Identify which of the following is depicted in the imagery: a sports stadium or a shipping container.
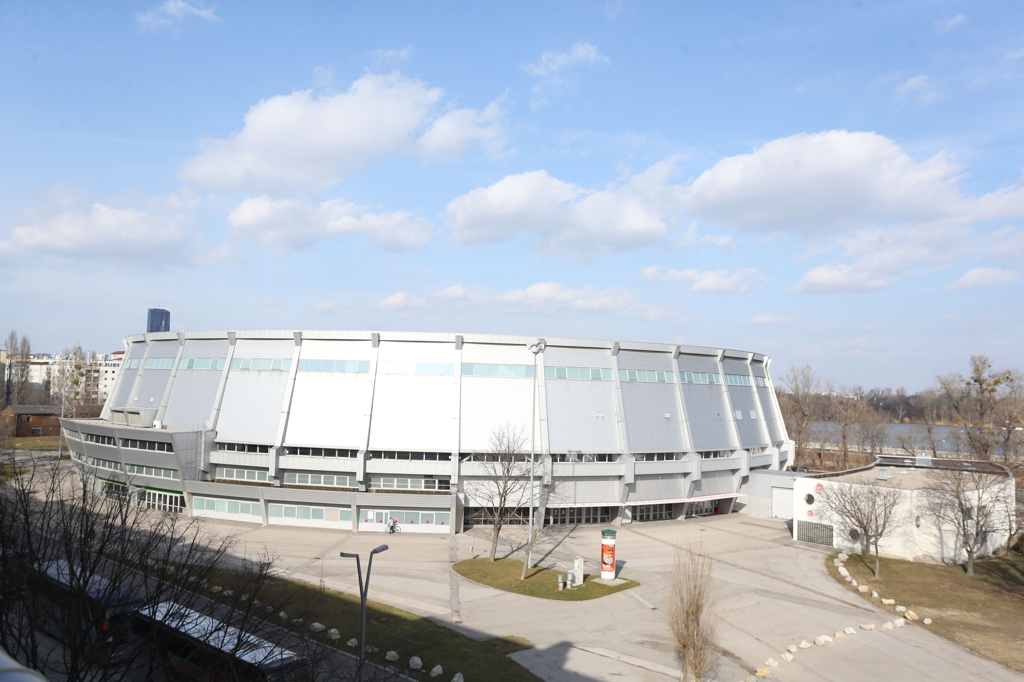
sports stadium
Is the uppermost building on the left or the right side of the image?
left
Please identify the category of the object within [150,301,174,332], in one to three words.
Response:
building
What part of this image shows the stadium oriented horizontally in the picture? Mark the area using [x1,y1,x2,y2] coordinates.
[98,330,796,528]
